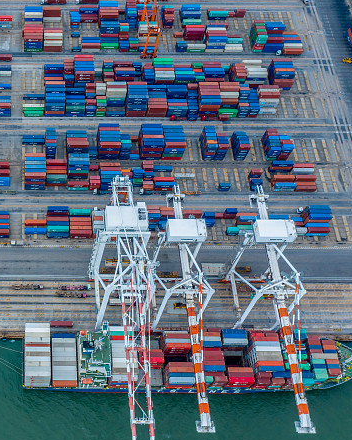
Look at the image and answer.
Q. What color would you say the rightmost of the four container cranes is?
white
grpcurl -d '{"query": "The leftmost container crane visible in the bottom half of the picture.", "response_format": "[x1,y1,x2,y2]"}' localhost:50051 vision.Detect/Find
[84,167,160,440]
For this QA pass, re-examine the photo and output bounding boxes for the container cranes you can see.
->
[84,167,160,440]
[217,184,317,430]
[140,4,163,58]
[146,183,217,428]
